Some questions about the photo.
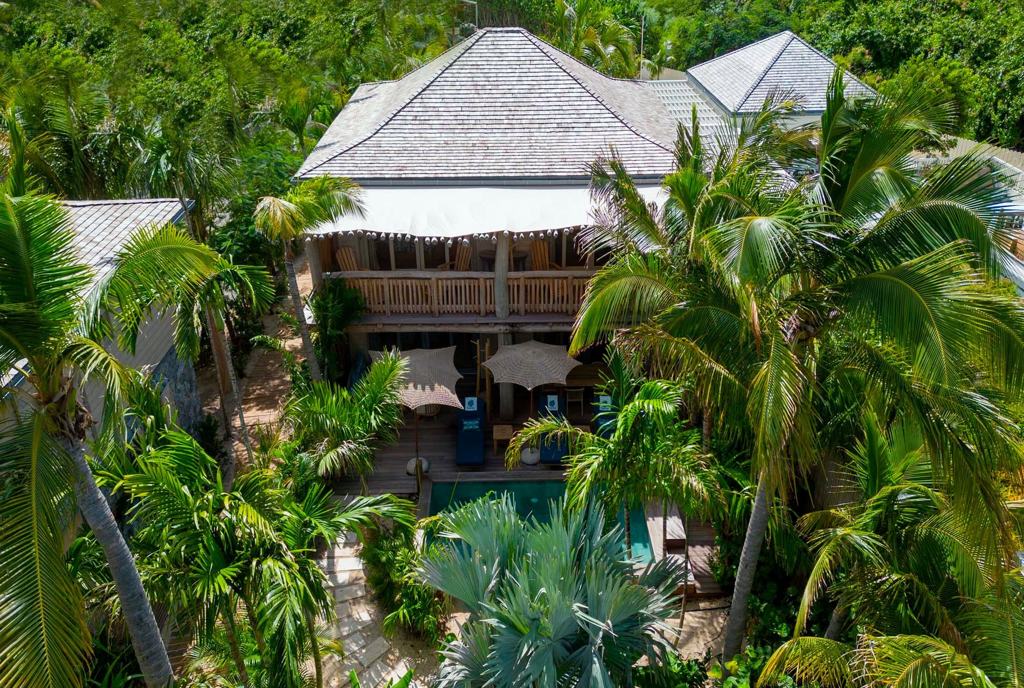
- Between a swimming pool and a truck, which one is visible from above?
swimming pool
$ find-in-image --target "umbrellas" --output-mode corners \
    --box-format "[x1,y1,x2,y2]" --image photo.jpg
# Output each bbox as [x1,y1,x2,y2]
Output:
[361,347,465,480]
[482,340,581,470]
